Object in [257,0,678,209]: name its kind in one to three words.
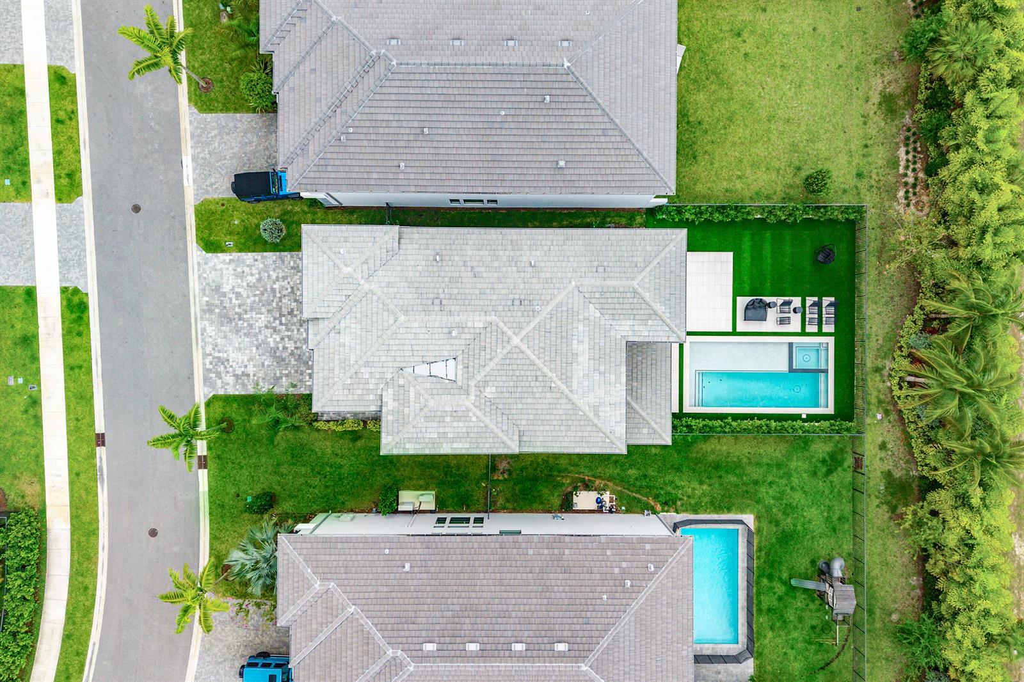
house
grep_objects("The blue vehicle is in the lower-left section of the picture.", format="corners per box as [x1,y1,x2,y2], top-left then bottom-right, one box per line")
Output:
[236,648,298,682]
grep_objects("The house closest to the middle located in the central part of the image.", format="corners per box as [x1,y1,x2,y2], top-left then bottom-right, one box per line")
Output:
[299,222,688,457]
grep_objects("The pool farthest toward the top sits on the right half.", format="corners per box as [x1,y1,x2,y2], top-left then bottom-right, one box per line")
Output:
[684,337,835,413]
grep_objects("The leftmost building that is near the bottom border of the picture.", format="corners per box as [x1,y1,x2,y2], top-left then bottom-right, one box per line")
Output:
[275,511,695,682]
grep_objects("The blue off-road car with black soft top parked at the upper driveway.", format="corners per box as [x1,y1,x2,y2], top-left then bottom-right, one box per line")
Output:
[229,166,303,204]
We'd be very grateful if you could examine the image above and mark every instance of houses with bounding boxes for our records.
[275,511,695,682]
[299,222,688,457]
[257,0,678,209]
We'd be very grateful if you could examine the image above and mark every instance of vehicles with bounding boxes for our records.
[236,648,298,682]
[229,166,303,204]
